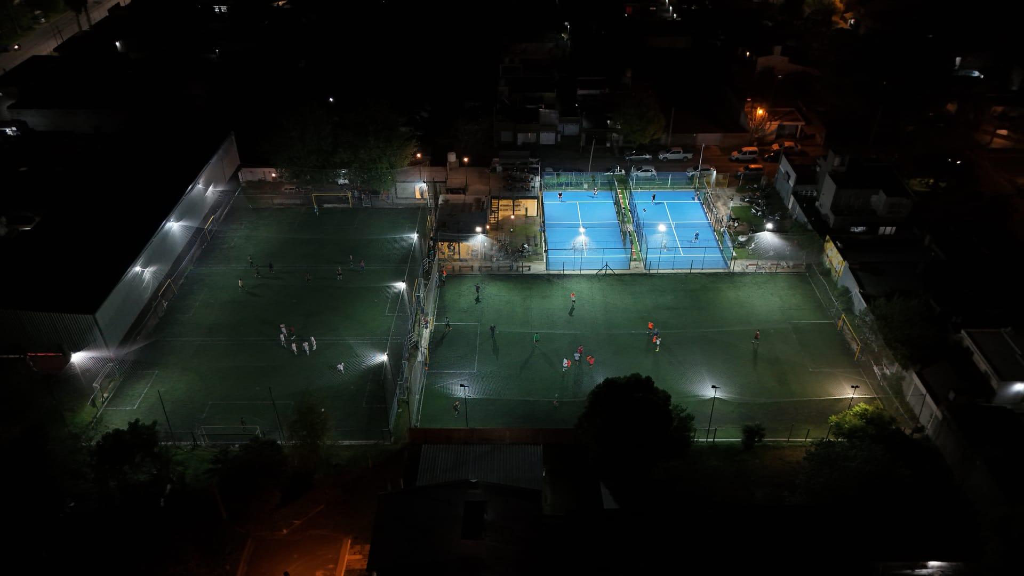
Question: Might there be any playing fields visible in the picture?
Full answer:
Yes, a playing field appears in the view.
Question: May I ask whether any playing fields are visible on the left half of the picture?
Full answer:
Yes, a playing field is visible on the left half of the picture.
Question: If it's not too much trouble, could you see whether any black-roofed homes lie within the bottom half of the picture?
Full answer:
Yes, within the bottom half of the picture there is a black-roofed home.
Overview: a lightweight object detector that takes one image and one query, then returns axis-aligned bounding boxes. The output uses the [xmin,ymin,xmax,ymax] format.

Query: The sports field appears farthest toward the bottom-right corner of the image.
[415,273,882,439]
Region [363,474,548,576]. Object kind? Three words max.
house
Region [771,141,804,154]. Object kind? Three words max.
vehicle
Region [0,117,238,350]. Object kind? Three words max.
warehouse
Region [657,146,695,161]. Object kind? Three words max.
vehicle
